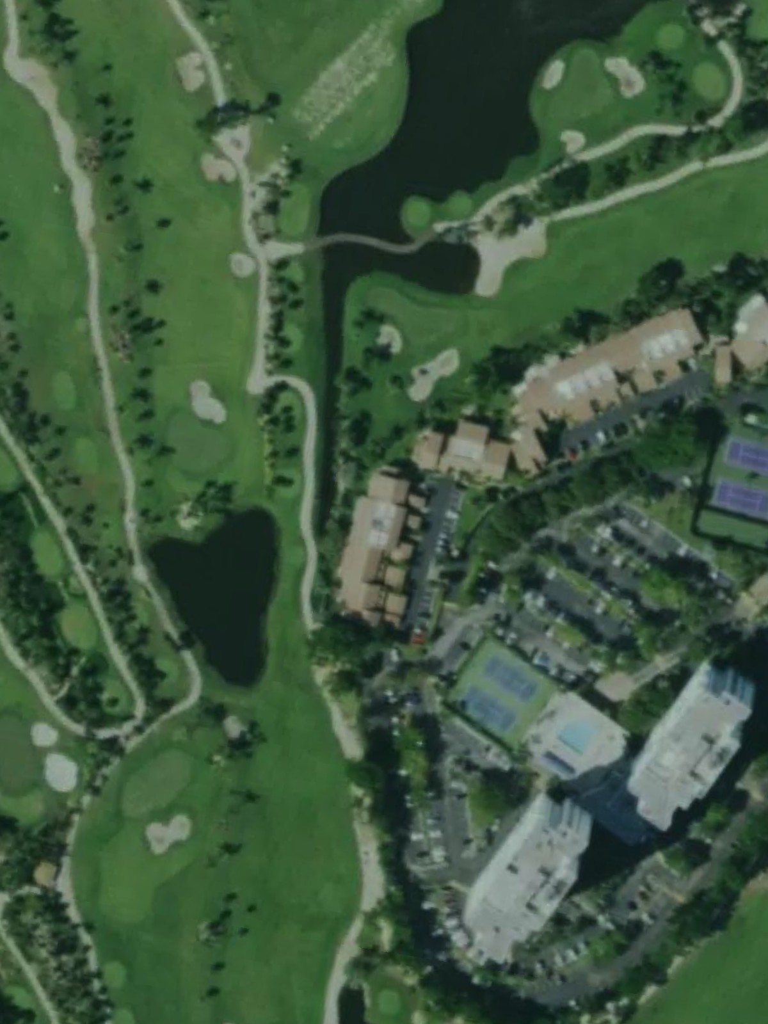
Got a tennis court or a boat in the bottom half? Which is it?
tennis court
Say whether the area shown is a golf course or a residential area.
golf course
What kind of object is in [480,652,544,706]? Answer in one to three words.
tennis court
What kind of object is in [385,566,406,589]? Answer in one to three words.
building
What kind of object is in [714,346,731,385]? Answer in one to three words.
building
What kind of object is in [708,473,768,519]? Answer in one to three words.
tennis court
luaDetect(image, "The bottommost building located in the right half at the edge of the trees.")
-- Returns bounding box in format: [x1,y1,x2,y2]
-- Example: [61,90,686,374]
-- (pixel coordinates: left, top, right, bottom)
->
[467,796,590,967]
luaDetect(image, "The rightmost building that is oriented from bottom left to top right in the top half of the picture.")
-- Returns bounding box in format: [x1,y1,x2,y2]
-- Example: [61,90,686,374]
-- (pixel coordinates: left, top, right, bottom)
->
[510,306,703,475]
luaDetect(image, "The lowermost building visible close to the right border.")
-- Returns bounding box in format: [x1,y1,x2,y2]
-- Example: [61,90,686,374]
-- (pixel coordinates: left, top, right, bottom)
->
[628,661,751,831]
